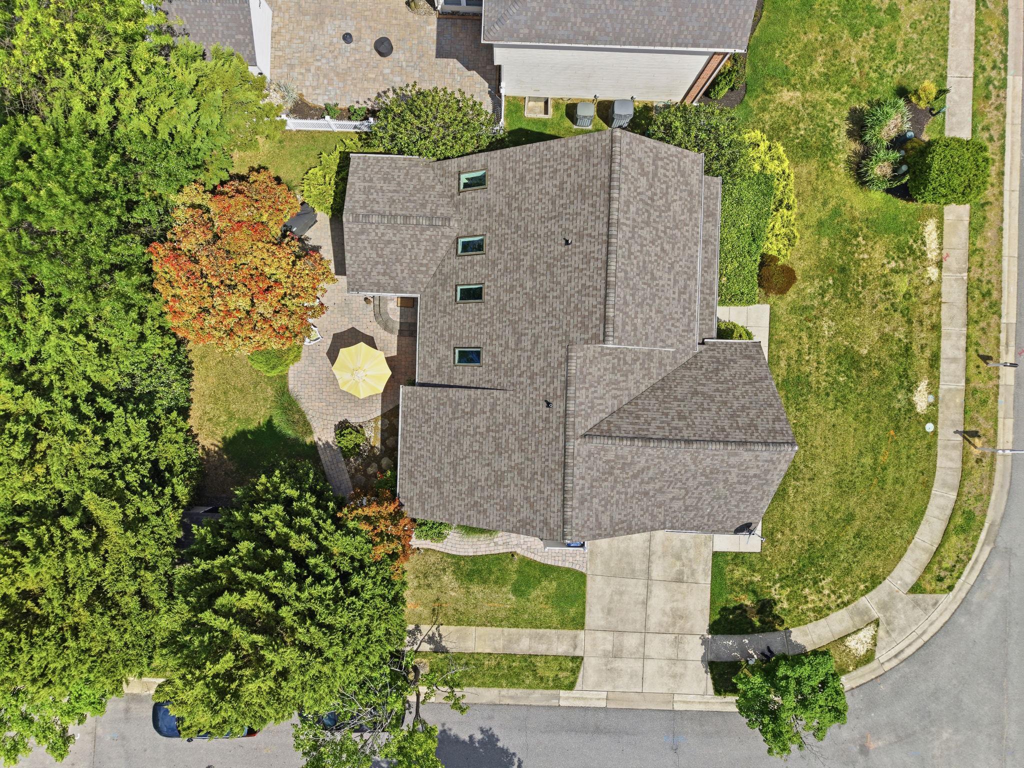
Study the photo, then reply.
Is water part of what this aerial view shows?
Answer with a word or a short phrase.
No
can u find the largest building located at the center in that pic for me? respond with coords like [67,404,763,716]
[343,129,797,557]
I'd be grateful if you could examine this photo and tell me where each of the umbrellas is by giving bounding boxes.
[332,342,392,398]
